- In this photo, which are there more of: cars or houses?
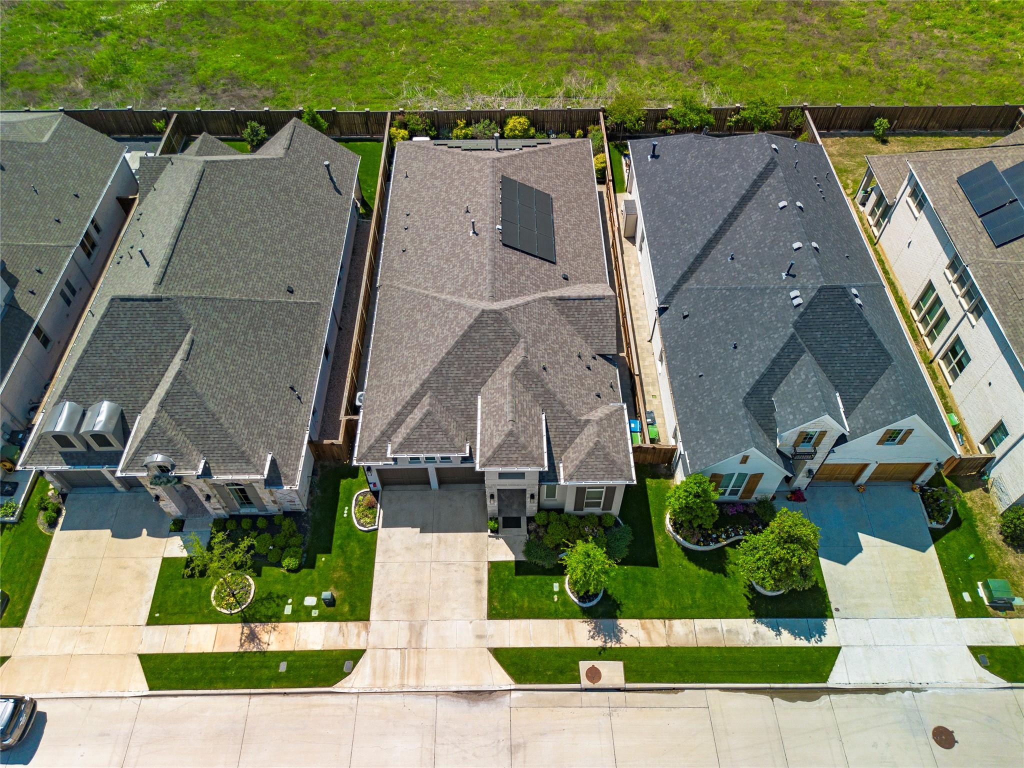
houses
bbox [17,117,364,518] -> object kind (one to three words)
house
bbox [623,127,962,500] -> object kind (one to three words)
house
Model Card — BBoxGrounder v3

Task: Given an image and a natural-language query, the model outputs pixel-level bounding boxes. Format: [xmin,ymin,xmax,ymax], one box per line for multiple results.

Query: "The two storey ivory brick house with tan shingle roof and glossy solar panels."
[849,132,1024,511]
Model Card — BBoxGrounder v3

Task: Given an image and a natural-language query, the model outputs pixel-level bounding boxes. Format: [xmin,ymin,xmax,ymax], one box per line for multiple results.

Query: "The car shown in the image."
[0,699,42,756]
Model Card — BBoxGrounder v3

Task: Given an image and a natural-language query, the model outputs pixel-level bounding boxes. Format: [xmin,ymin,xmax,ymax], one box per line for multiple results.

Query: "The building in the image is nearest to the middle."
[350,135,640,516]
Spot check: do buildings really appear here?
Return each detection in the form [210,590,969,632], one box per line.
[849,132,1024,511]
[0,113,134,468]
[17,117,364,518]
[350,135,640,516]
[623,127,962,500]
